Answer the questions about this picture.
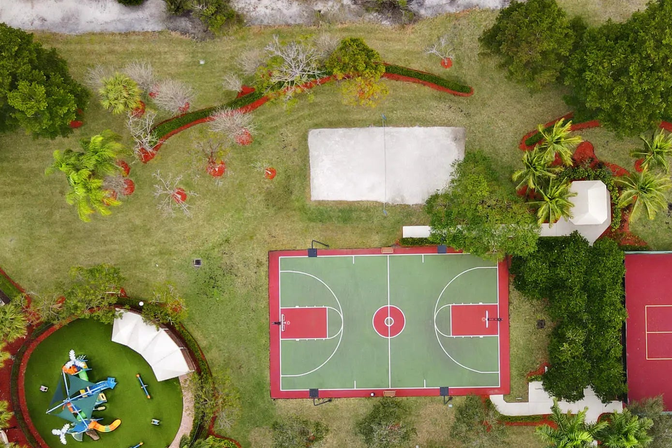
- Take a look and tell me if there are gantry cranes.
No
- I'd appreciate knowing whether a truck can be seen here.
No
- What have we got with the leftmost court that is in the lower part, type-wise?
basketball court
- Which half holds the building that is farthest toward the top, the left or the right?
right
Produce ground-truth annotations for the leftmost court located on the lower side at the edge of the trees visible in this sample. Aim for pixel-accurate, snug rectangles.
[268,246,510,398]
